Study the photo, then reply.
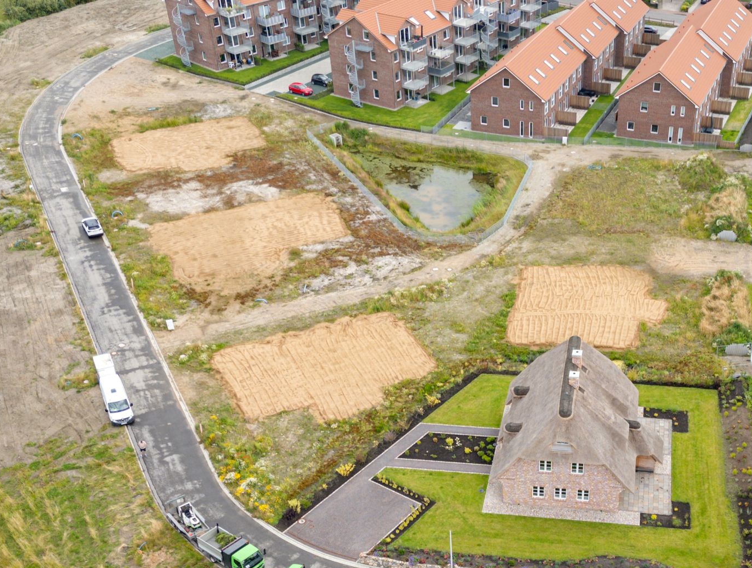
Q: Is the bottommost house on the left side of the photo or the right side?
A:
right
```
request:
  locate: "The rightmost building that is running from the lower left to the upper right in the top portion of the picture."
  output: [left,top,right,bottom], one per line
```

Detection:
[615,0,752,146]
